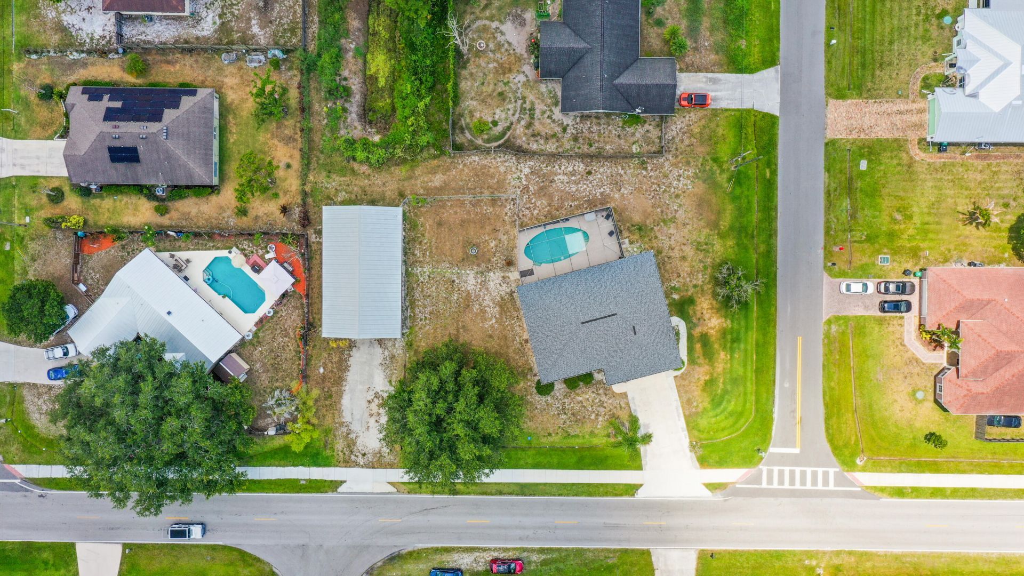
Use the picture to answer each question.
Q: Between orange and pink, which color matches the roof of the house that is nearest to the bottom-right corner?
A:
pink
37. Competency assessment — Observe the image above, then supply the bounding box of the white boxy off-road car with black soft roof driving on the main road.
[165,522,205,540]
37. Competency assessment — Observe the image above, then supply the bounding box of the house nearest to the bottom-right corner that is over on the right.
[913,267,1024,415]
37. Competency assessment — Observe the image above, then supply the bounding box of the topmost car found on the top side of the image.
[678,91,711,108]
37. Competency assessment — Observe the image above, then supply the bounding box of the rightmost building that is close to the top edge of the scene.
[919,0,1024,143]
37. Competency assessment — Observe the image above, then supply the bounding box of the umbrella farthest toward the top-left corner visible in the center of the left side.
[233,254,247,268]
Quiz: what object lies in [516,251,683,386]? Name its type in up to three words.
house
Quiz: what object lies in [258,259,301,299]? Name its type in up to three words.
gazebo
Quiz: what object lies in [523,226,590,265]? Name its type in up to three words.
swimming pool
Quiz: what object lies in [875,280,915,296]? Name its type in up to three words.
car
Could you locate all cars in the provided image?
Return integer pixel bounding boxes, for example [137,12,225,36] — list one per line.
[678,91,711,108]
[875,280,915,296]
[44,306,77,341]
[984,415,1021,430]
[47,362,83,378]
[165,522,205,540]
[431,565,463,576]
[490,558,522,576]
[877,299,911,315]
[838,280,873,296]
